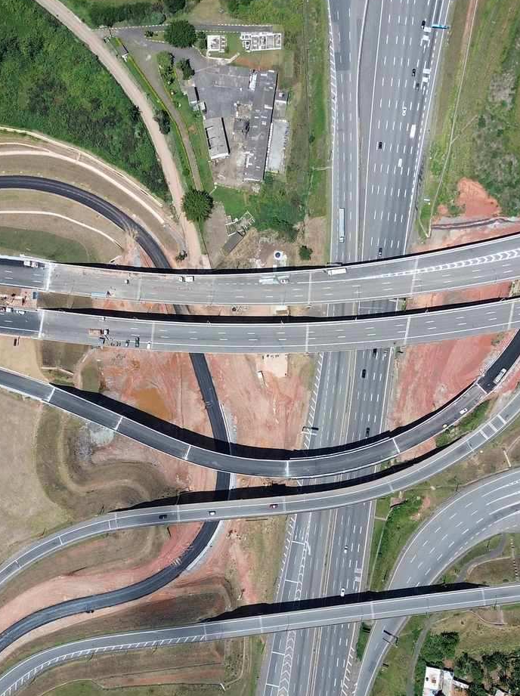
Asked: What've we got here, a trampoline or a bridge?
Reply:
bridge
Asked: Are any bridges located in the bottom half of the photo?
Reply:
Yes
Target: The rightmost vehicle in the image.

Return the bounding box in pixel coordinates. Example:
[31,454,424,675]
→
[492,368,508,383]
